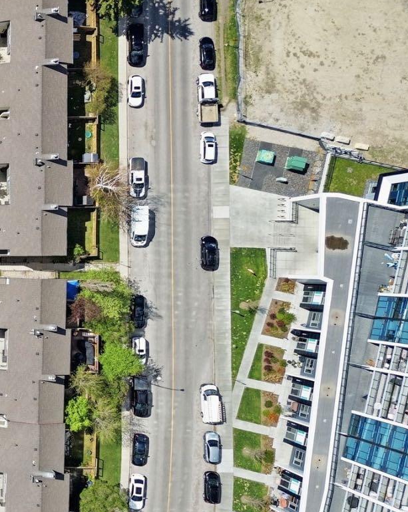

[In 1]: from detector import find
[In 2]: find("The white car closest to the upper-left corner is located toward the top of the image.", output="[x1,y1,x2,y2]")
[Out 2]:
[128,74,145,109]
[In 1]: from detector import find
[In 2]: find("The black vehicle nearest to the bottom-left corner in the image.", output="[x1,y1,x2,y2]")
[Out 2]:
[132,430,149,466]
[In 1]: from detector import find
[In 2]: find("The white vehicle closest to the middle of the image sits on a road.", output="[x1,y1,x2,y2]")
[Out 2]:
[131,206,150,246]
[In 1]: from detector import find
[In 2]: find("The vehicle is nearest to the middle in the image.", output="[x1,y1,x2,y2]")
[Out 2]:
[200,236,219,270]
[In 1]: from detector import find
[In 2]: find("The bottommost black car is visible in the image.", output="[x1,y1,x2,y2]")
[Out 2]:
[202,469,221,504]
